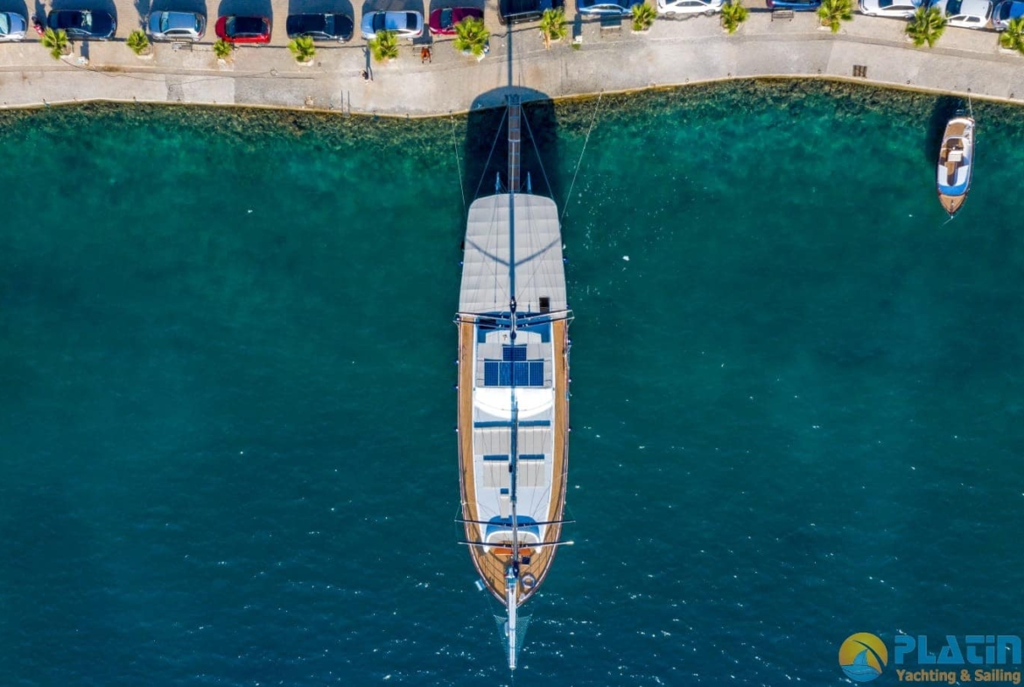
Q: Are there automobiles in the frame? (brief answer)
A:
Yes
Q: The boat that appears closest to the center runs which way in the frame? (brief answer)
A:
vertically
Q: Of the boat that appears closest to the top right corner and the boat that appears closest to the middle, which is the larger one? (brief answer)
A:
the boat that appears closest to the middle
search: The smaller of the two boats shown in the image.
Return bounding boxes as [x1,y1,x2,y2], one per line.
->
[935,114,975,218]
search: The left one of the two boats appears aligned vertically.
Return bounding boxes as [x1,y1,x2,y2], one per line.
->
[453,89,575,678]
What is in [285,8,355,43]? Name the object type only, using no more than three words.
car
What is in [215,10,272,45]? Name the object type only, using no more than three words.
car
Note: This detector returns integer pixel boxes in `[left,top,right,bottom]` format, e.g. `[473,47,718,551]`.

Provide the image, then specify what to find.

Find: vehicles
[23,11,42,34]
[148,7,208,42]
[429,1,485,36]
[285,8,355,43]
[575,0,645,16]
[499,0,566,26]
[989,0,1024,31]
[656,0,725,15]
[0,12,28,42]
[43,6,119,41]
[215,10,272,45]
[930,0,997,27]
[361,6,425,40]
[764,0,821,11]
[858,0,921,18]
